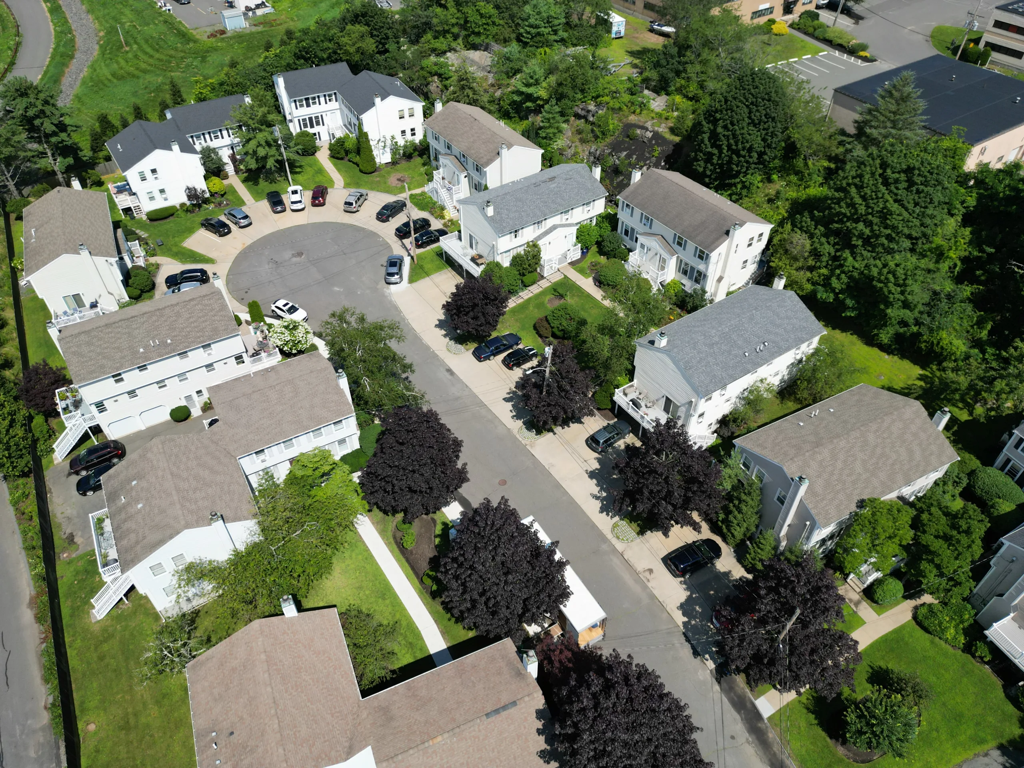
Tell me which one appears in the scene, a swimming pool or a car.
car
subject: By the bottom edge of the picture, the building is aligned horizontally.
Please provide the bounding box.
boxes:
[184,593,568,768]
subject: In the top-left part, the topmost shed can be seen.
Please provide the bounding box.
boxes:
[224,11,246,31]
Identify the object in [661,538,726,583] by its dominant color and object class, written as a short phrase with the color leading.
black car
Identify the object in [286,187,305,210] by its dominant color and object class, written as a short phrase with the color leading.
white car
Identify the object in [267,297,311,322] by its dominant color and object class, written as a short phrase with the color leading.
white car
